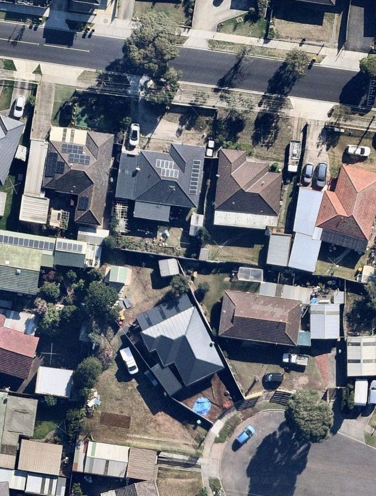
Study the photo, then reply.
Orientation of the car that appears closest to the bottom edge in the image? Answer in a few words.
on a diagonal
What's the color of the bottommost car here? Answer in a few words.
blue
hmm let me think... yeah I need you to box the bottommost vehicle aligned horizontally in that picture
[260,373,286,387]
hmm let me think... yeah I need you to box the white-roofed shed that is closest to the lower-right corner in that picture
[347,337,376,377]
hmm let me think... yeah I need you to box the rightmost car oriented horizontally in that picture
[346,144,373,157]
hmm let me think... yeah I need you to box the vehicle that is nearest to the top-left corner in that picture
[12,93,26,119]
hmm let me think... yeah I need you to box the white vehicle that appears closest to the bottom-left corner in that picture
[120,346,140,375]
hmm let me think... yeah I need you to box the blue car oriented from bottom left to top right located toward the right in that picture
[234,424,257,445]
